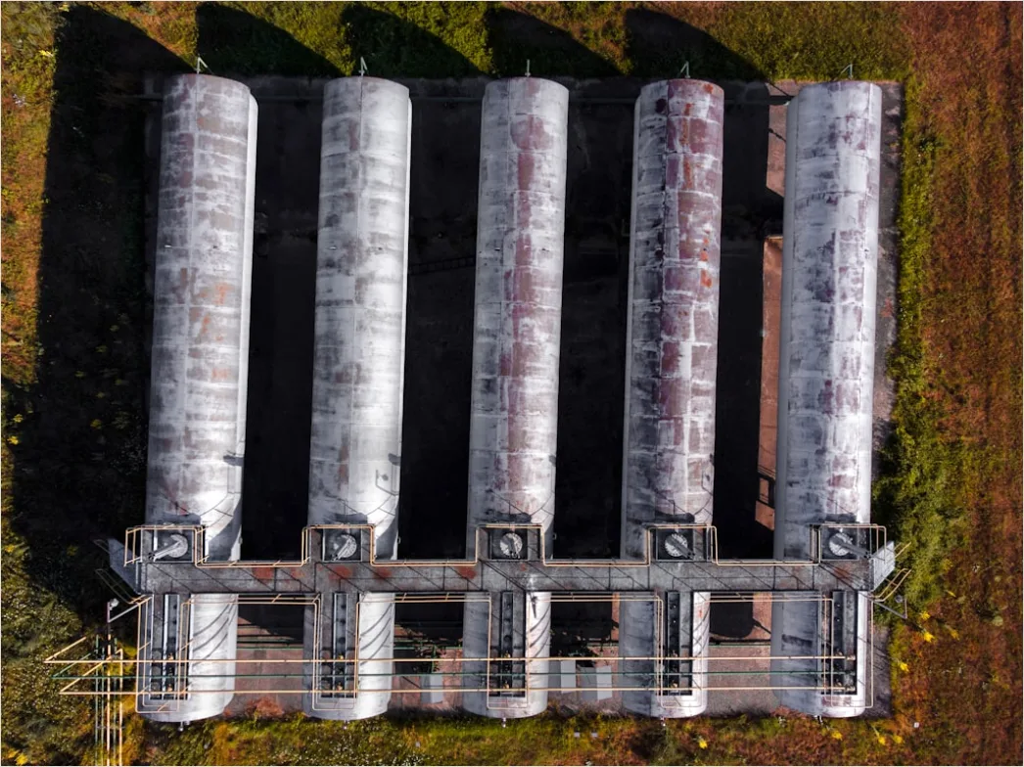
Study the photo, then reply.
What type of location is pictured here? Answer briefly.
industrial area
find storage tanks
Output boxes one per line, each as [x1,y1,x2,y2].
[768,65,882,721]
[461,63,568,723]
[302,61,413,724]
[620,64,725,722]
[131,59,267,725]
